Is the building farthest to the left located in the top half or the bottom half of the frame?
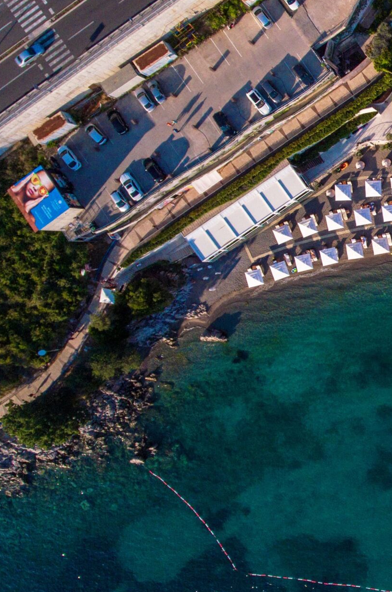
top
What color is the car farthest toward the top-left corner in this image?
blue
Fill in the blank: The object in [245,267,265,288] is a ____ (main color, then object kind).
white umbrella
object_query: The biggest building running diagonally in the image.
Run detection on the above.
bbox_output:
[183,165,318,269]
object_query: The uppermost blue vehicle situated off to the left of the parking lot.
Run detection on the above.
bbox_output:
[14,42,43,66]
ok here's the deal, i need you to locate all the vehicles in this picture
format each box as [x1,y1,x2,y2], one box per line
[118,172,142,201]
[210,107,234,136]
[245,86,269,116]
[250,4,272,31]
[141,155,165,184]
[283,0,300,12]
[81,121,105,147]
[131,86,154,113]
[258,76,282,105]
[143,78,166,105]
[104,107,128,136]
[289,58,313,88]
[56,143,80,172]
[14,42,43,66]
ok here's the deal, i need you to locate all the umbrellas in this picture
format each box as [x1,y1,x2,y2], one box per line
[363,177,384,197]
[294,251,316,273]
[299,217,319,236]
[370,235,391,255]
[269,259,292,282]
[335,181,355,202]
[354,206,373,224]
[245,267,265,288]
[319,245,341,266]
[325,211,347,232]
[271,222,294,245]
[381,204,392,223]
[345,240,366,260]
[102,289,115,303]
